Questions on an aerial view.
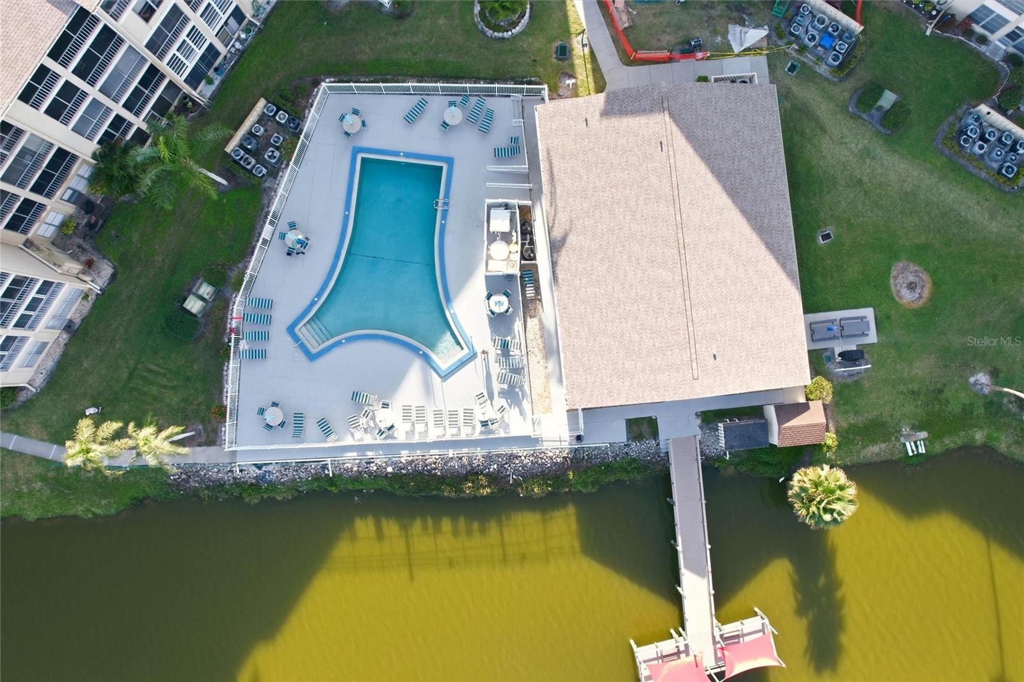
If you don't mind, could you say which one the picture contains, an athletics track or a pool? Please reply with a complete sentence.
This aerial view contains a pool.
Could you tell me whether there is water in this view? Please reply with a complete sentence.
Yes, water shows up in the scene.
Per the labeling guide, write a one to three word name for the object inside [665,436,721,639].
pier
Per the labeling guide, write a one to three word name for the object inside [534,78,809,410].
building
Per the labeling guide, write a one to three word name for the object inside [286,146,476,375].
swimming pool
